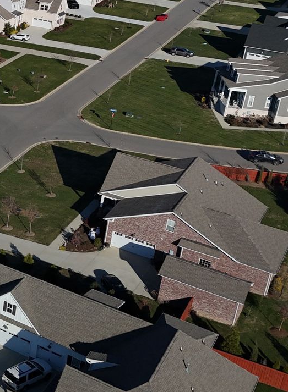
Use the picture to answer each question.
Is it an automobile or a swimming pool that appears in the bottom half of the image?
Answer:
automobile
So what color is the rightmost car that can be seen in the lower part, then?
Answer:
black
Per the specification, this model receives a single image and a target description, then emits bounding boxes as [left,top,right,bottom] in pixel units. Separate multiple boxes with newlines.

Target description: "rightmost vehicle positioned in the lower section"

[91,269,128,294]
